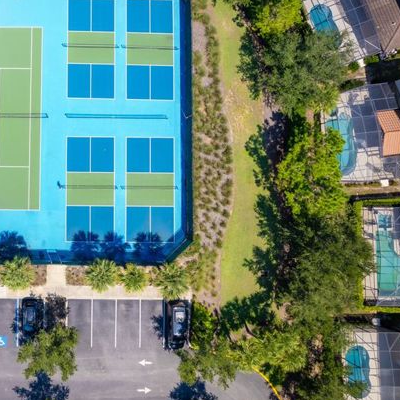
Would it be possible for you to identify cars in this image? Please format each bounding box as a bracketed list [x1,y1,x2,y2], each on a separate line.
[21,296,39,338]
[167,302,187,348]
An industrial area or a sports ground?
sports ground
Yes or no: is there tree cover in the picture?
Yes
